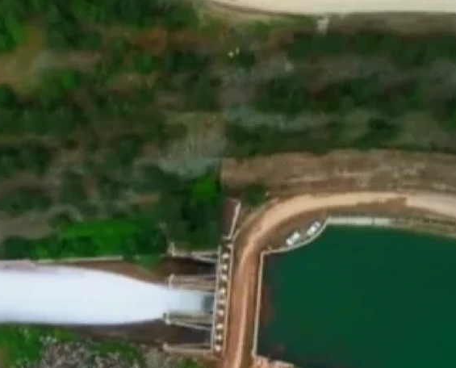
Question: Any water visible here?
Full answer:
Yes, there is water in the image.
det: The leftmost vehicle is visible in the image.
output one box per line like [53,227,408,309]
[284,231,301,246]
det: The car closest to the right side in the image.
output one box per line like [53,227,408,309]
[305,221,321,237]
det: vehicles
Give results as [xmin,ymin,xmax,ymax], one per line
[305,221,321,237]
[284,231,301,246]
